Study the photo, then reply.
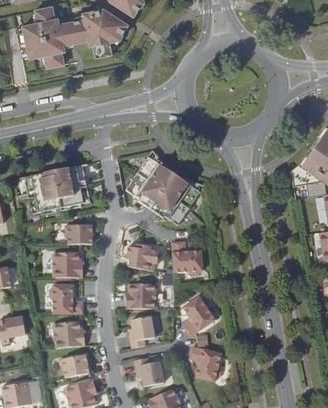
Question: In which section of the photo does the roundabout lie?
top right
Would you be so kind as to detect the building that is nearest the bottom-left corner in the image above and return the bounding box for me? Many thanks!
[4,380,43,408]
